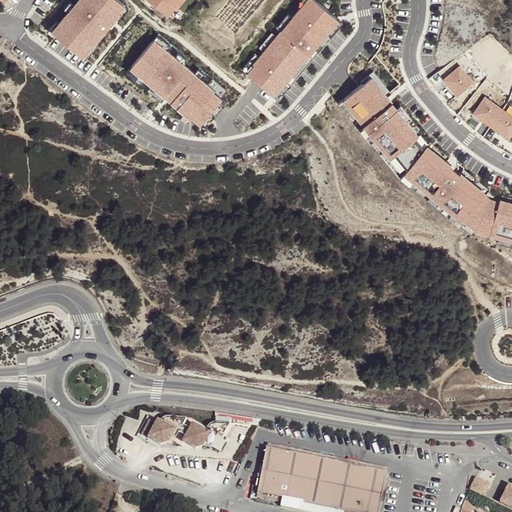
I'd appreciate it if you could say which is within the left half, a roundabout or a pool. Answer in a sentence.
What appears within the left half is a roundabout.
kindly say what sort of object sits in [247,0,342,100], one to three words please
building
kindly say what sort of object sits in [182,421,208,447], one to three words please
house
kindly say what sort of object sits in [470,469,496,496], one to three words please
house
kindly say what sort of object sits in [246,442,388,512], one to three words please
building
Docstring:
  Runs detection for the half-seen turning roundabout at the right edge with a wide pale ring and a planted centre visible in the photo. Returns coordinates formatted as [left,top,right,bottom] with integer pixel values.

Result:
[474,280,512,384]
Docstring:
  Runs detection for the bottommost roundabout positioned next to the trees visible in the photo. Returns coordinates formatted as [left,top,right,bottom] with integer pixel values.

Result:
[52,348,124,420]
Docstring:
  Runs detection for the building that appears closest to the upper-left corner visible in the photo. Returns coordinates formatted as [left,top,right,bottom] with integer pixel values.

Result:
[52,0,126,60]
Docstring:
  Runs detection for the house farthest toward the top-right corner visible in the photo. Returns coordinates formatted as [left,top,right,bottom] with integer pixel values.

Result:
[434,66,474,96]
